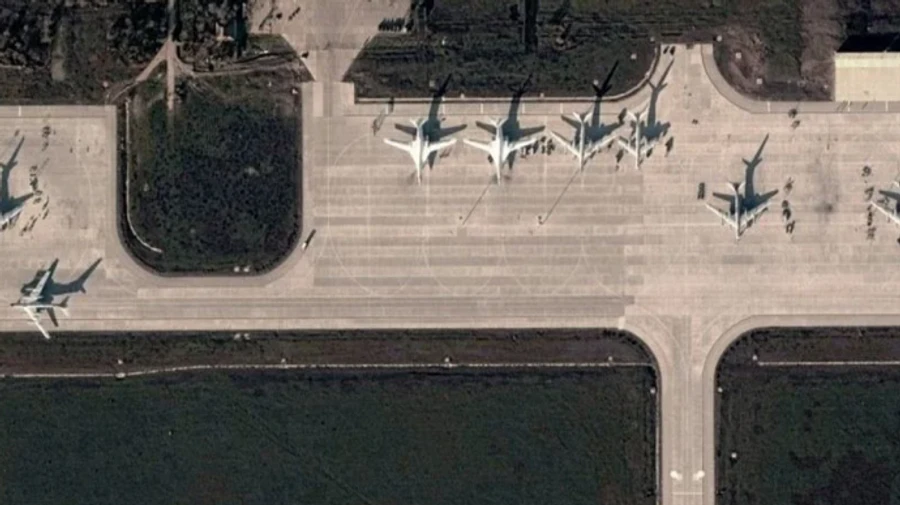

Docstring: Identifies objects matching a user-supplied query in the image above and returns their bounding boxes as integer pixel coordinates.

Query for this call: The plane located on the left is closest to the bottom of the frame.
[11,271,70,337]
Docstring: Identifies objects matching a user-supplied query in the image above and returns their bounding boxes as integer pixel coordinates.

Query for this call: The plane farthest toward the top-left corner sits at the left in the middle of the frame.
[0,202,26,227]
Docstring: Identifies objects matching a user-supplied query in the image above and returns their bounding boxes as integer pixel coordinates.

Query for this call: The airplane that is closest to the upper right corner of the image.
[873,201,900,227]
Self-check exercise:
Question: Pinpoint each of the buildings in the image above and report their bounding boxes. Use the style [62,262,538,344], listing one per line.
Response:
[836,52,900,100]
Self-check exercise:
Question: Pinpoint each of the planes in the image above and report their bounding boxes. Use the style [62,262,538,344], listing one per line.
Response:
[11,271,70,337]
[618,108,658,169]
[873,201,900,227]
[462,118,535,184]
[706,183,769,240]
[549,112,615,174]
[0,202,26,227]
[383,119,455,186]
